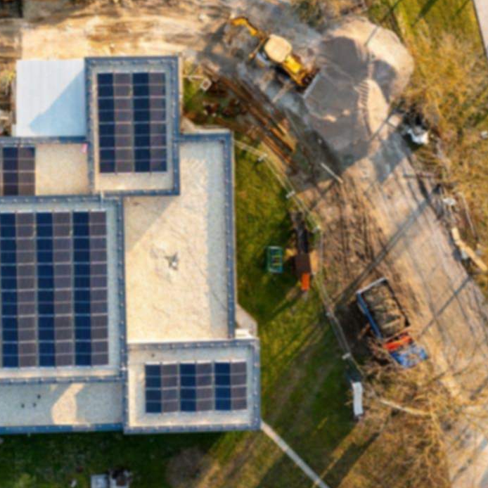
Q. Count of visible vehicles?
2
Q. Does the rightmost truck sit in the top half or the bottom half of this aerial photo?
bottom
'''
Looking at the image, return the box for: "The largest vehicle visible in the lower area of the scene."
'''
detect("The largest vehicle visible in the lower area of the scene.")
[355,274,429,364]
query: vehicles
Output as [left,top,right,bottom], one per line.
[217,25,312,102]
[355,274,429,364]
